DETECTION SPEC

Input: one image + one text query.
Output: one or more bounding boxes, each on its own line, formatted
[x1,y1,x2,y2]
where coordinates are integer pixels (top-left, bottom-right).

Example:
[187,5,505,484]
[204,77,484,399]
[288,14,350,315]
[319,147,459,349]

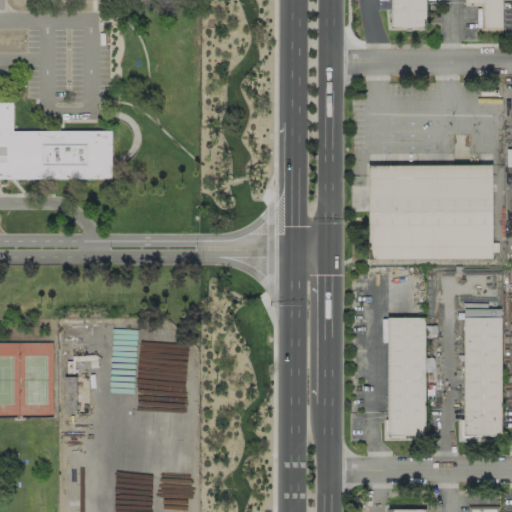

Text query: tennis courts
[20,344,54,416]
[0,344,20,416]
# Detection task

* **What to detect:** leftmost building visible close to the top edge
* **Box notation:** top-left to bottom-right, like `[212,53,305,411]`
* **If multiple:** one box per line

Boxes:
[391,0,428,28]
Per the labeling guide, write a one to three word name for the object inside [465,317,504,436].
building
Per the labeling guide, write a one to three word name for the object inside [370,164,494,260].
building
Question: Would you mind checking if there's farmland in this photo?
No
